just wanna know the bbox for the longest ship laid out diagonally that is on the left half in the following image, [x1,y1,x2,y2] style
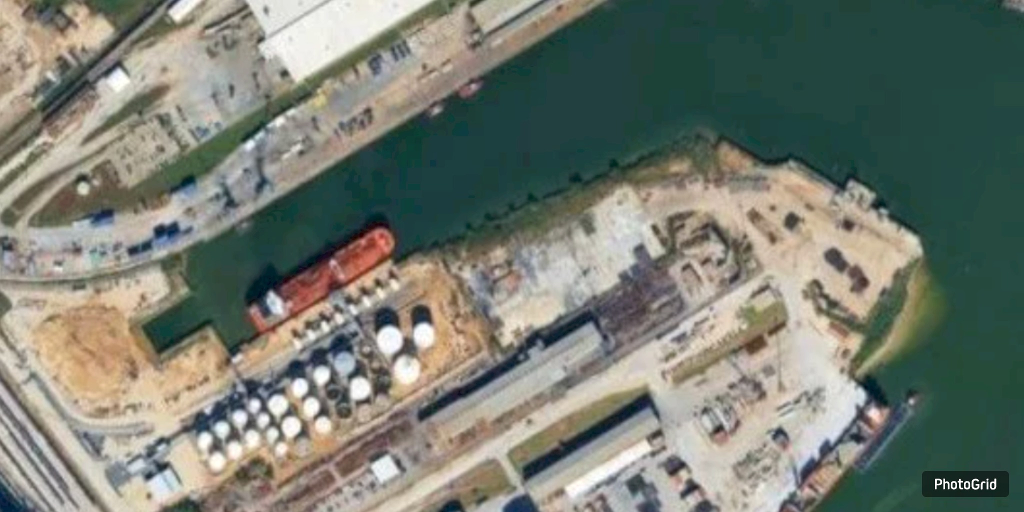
[248,228,396,334]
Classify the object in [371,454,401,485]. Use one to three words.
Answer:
building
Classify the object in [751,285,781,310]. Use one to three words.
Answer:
shed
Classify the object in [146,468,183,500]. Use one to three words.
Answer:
building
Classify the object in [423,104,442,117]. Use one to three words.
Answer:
boat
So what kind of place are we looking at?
port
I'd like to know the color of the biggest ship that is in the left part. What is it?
red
